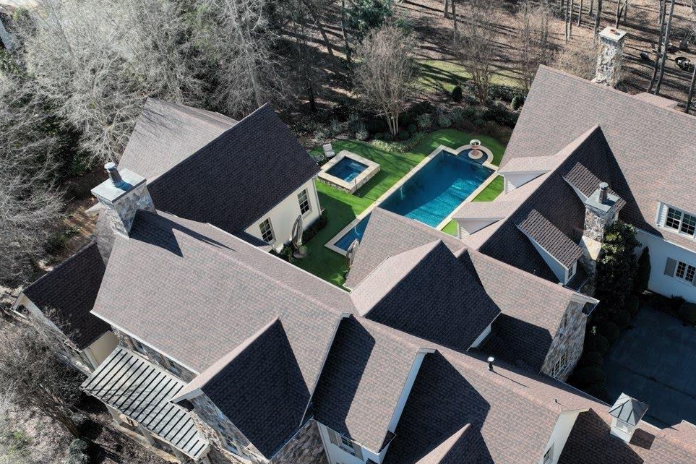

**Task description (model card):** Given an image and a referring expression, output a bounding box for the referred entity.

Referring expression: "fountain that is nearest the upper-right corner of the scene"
[455,139,497,166]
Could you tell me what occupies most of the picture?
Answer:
buildings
